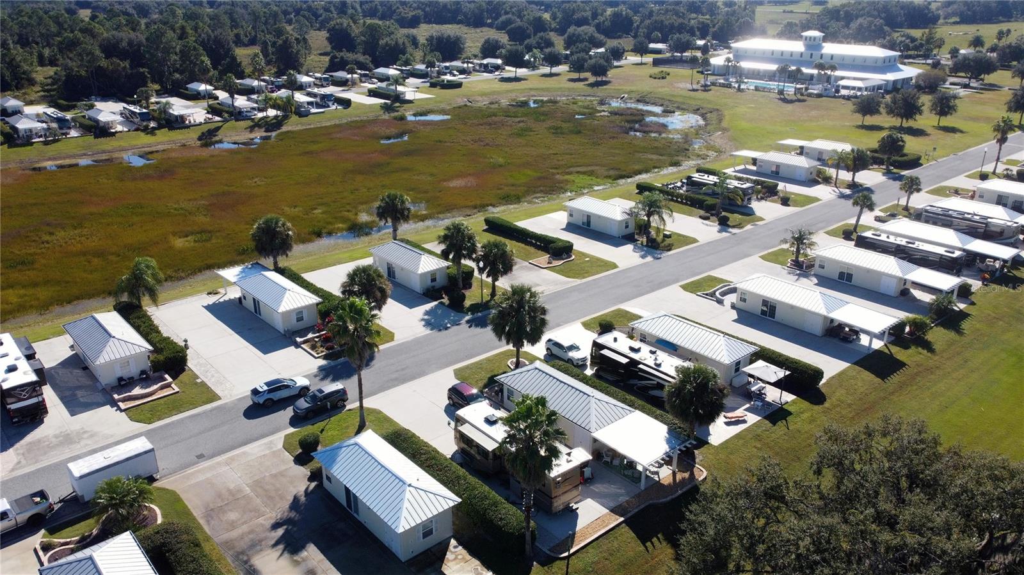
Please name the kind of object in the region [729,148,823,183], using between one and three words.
house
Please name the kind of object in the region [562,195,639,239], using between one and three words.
house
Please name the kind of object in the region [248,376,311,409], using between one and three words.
car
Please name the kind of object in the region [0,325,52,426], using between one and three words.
camper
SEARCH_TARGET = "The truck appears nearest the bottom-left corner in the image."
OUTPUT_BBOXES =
[0,484,60,530]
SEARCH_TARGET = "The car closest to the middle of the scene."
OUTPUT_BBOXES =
[542,330,590,365]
